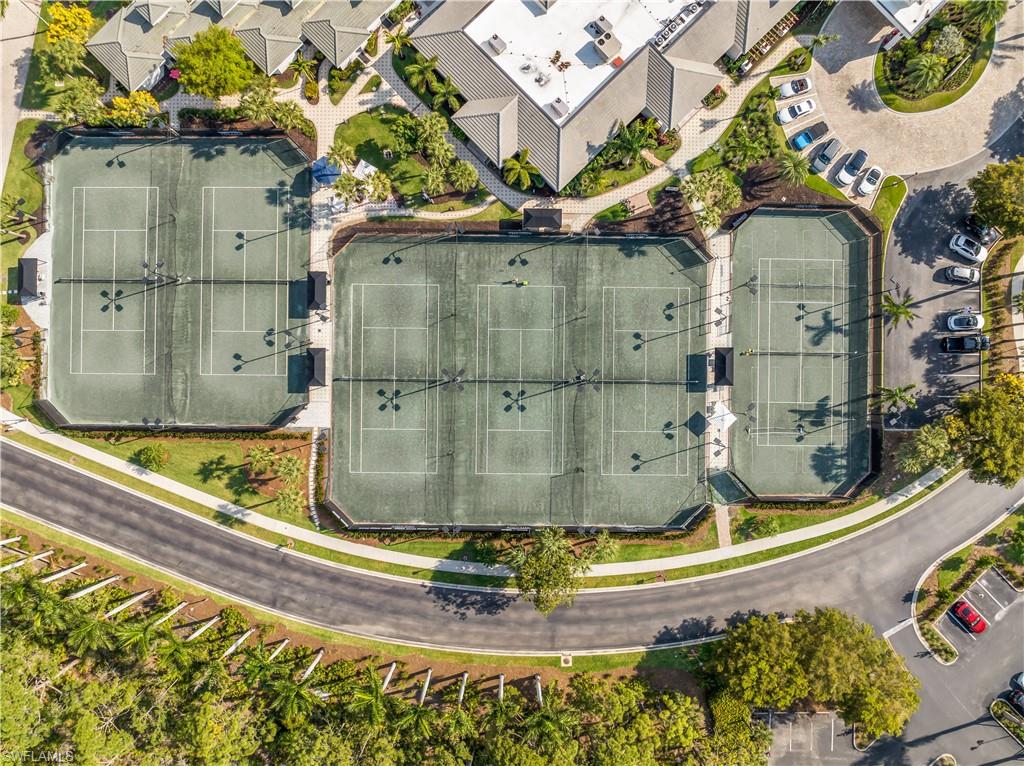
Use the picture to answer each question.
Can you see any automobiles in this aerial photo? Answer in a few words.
Yes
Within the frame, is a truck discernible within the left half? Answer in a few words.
No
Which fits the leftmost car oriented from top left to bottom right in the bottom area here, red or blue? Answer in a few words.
red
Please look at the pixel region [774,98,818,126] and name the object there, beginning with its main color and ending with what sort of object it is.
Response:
white car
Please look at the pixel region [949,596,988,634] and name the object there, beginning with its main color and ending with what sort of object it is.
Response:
red car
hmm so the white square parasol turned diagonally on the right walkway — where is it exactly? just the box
[705,402,737,433]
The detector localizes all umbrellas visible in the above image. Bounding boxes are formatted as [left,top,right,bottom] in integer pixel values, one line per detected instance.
[705,402,737,433]
[354,161,375,183]
[312,156,341,186]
